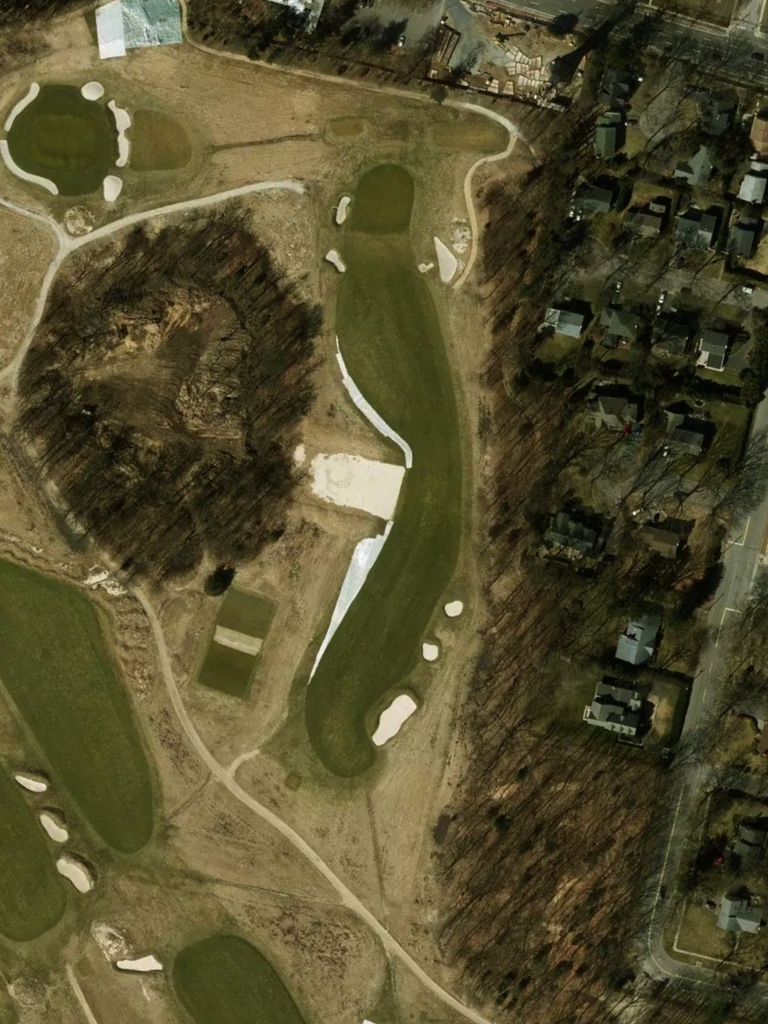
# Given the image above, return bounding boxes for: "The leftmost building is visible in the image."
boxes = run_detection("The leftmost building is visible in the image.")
[262,0,322,33]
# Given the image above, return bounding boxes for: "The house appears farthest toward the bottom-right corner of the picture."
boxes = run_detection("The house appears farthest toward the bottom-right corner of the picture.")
[716,894,765,931]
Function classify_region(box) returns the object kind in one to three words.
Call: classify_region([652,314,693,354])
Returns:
house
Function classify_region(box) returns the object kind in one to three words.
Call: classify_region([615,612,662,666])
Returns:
house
